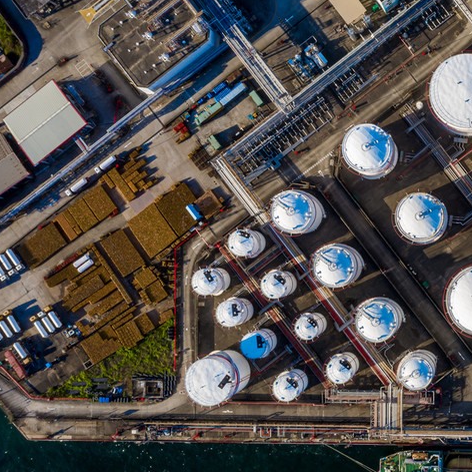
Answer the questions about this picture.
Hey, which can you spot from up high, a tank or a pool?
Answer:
tank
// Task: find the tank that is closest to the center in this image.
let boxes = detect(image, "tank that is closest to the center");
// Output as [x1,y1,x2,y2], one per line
[225,227,275,263]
